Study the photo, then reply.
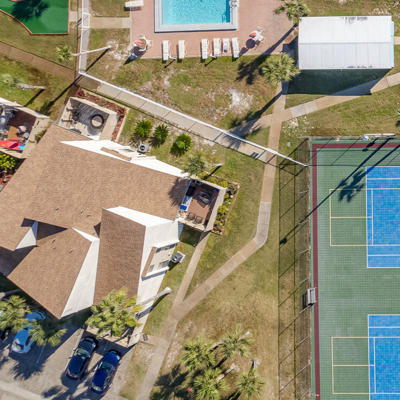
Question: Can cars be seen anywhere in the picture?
Yes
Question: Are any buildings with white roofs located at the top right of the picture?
Yes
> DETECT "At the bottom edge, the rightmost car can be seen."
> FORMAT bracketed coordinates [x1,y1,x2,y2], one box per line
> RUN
[91,351,123,395]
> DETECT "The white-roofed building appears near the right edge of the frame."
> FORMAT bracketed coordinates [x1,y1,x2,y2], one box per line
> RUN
[298,16,394,70]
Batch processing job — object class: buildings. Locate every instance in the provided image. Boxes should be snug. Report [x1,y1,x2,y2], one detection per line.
[0,123,200,319]
[298,16,394,70]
